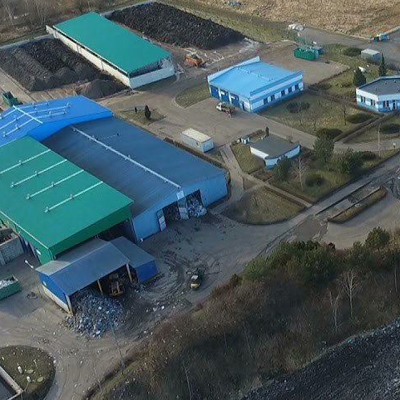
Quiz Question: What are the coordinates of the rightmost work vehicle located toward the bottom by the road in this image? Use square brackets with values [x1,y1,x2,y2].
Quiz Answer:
[185,268,203,294]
